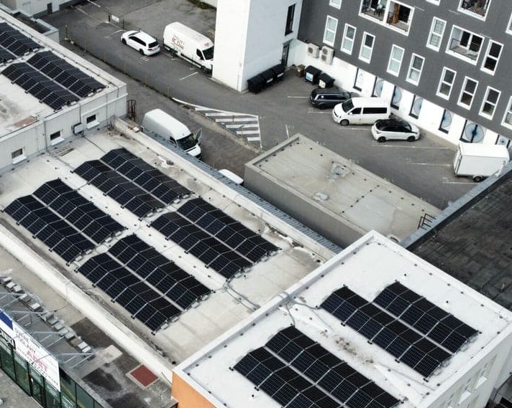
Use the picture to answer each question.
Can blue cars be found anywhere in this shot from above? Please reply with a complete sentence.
No, the photo shows no blue car.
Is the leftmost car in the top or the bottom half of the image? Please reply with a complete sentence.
The top half of the photo is where the leftmost car is.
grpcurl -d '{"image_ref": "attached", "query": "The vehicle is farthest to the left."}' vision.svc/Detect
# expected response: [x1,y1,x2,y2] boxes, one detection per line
[120,30,163,56]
